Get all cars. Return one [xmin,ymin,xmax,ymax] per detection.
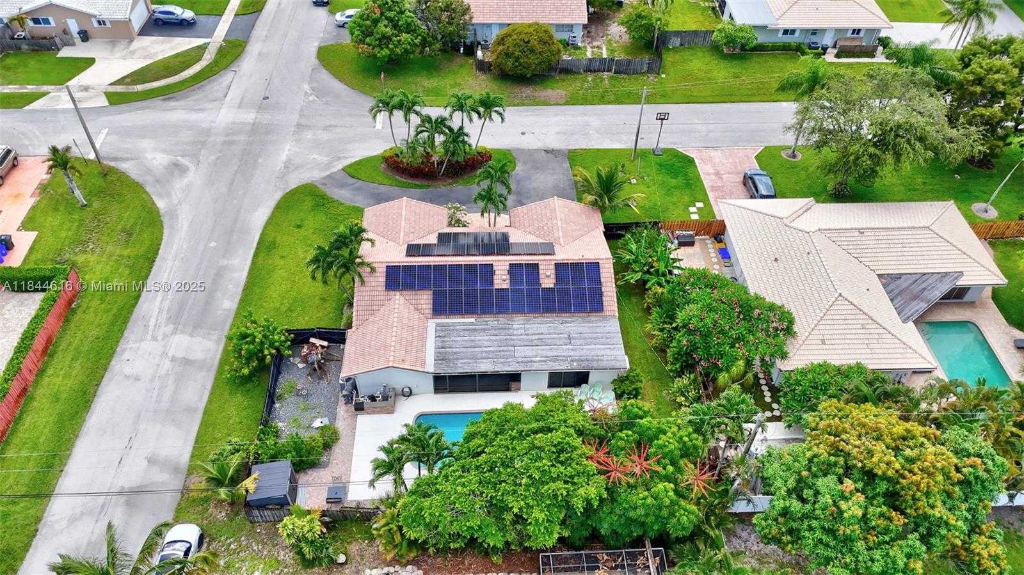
[737,169,775,199]
[336,7,378,27]
[149,4,198,26]
[0,147,19,183]
[140,523,202,575]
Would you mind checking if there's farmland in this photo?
No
